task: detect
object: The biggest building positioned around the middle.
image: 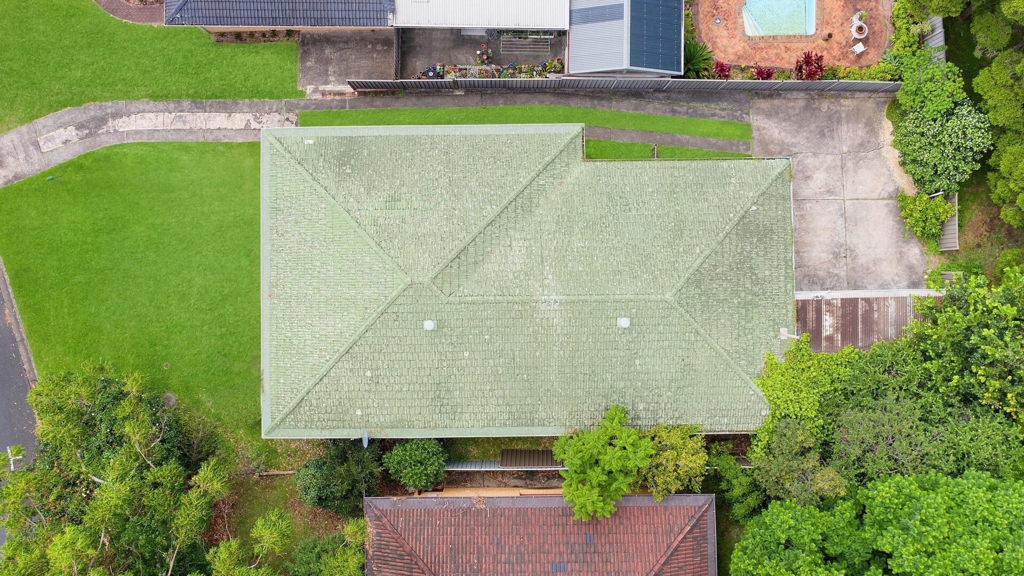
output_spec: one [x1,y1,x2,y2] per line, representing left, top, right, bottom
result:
[259,122,799,442]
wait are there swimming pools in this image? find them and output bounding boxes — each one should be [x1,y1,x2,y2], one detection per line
[733,0,827,45]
